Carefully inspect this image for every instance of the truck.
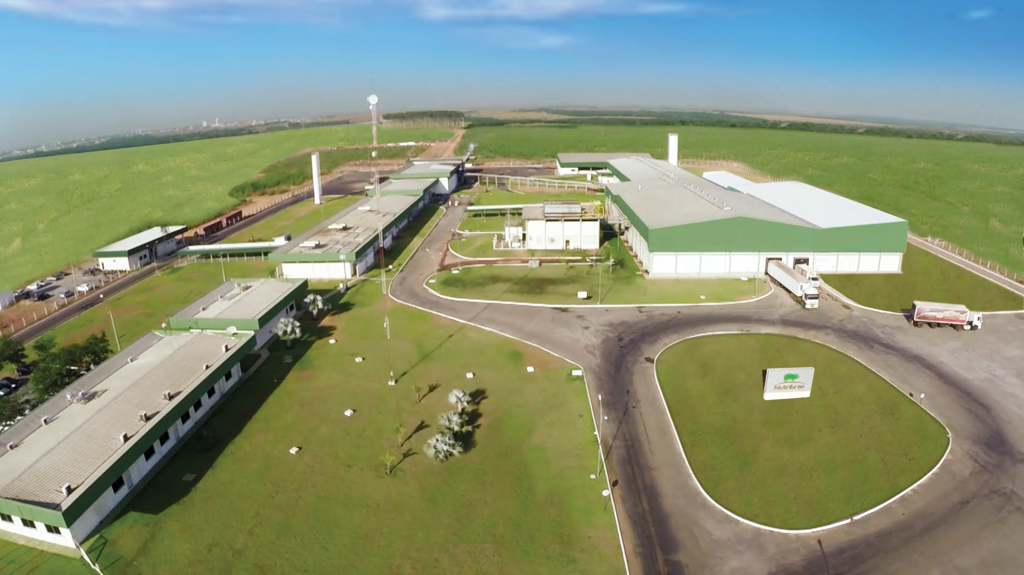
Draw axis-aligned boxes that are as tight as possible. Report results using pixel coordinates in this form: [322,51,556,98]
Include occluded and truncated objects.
[912,299,985,331]
[185,209,243,239]
[796,261,830,289]
[769,257,825,305]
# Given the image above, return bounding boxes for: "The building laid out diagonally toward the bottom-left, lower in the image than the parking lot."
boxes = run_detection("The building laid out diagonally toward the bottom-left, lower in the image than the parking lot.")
[0,329,259,548]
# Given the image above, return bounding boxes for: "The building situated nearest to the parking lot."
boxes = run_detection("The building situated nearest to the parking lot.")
[93,225,191,269]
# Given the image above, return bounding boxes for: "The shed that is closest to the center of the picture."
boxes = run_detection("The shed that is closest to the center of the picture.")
[491,210,526,250]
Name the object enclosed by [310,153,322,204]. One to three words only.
water tower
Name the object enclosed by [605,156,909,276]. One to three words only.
building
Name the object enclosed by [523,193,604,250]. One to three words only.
building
